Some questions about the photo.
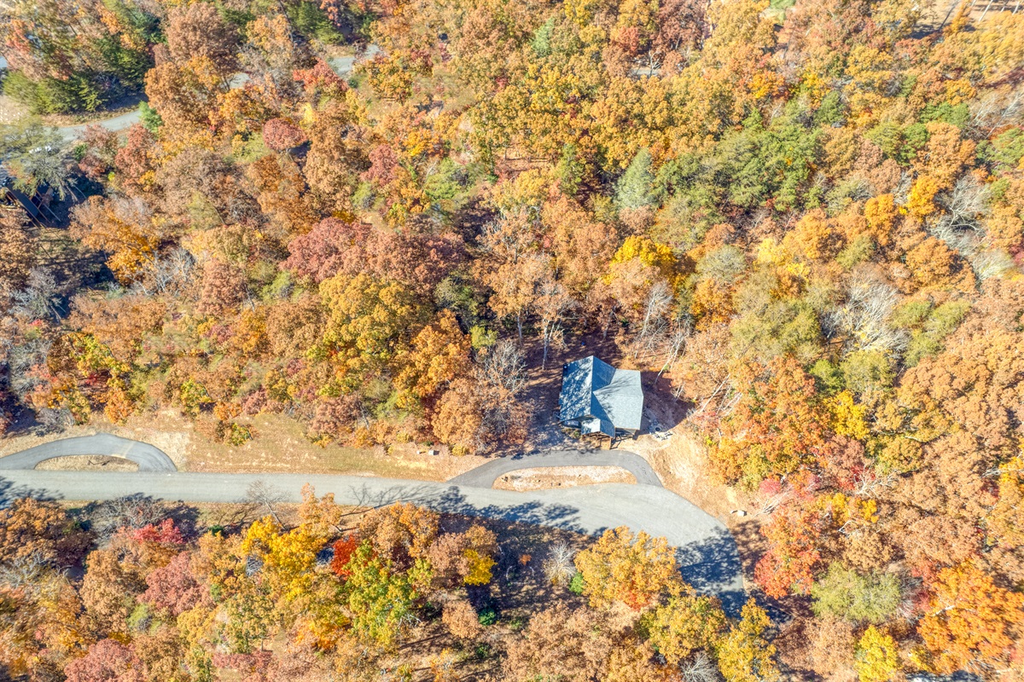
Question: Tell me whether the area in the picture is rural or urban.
rural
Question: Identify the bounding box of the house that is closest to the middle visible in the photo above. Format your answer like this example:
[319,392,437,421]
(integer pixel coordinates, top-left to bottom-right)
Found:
[558,354,645,454]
